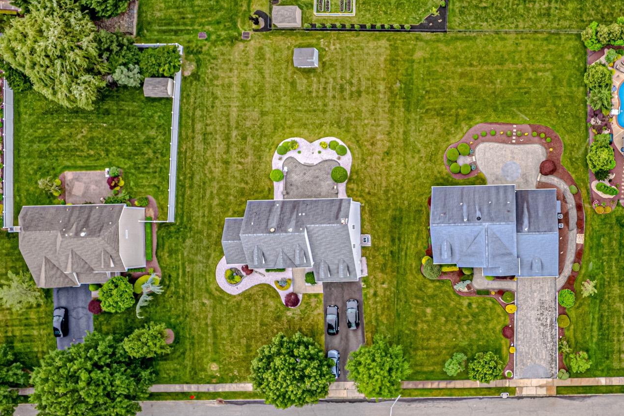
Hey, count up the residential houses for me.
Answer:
3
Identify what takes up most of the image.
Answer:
grass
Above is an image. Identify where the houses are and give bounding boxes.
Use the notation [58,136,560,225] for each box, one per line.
[218,198,361,282]
[15,204,145,289]
[428,184,560,277]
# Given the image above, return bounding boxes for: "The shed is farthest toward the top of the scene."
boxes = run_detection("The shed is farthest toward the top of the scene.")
[266,1,301,26]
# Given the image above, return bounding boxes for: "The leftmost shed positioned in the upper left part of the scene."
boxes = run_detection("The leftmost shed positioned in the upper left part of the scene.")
[136,77,172,96]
